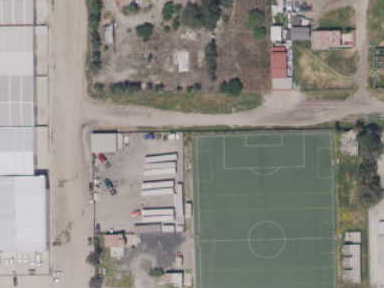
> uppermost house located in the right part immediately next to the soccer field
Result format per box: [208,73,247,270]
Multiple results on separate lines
[342,129,358,156]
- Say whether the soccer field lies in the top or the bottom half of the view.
bottom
